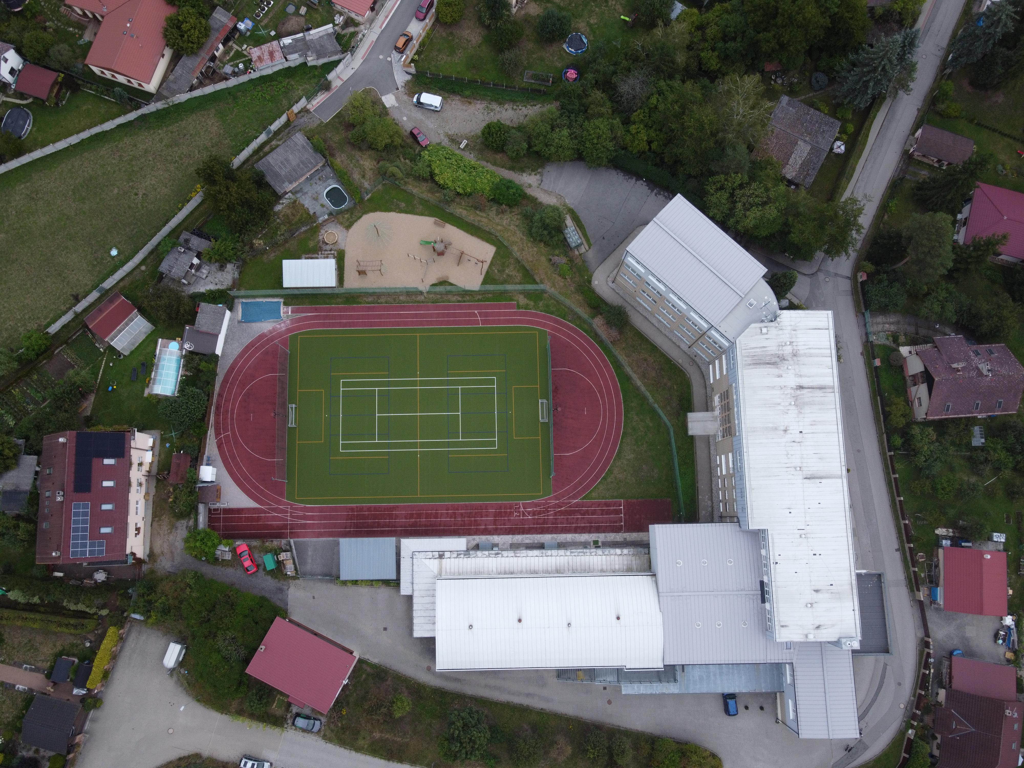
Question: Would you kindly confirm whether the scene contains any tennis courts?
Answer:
Yes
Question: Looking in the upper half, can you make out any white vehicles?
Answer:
Yes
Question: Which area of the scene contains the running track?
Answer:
center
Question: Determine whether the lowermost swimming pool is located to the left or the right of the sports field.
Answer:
left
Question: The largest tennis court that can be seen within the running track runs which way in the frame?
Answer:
from left to right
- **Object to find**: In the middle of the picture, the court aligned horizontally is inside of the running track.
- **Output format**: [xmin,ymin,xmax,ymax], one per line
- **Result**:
[340,377,497,452]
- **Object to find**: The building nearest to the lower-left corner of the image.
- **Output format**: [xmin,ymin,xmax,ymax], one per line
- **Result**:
[22,693,85,755]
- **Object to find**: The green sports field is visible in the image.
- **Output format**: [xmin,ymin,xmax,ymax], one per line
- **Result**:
[285,326,552,505]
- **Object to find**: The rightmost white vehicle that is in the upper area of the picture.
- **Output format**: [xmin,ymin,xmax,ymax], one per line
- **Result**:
[412,92,444,112]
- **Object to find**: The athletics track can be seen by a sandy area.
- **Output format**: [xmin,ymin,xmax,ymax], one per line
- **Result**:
[208,302,672,539]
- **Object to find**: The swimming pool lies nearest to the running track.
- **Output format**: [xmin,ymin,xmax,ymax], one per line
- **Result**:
[149,339,183,395]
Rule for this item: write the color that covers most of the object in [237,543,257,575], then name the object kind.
red car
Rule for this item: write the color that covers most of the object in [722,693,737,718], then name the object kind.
blue car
